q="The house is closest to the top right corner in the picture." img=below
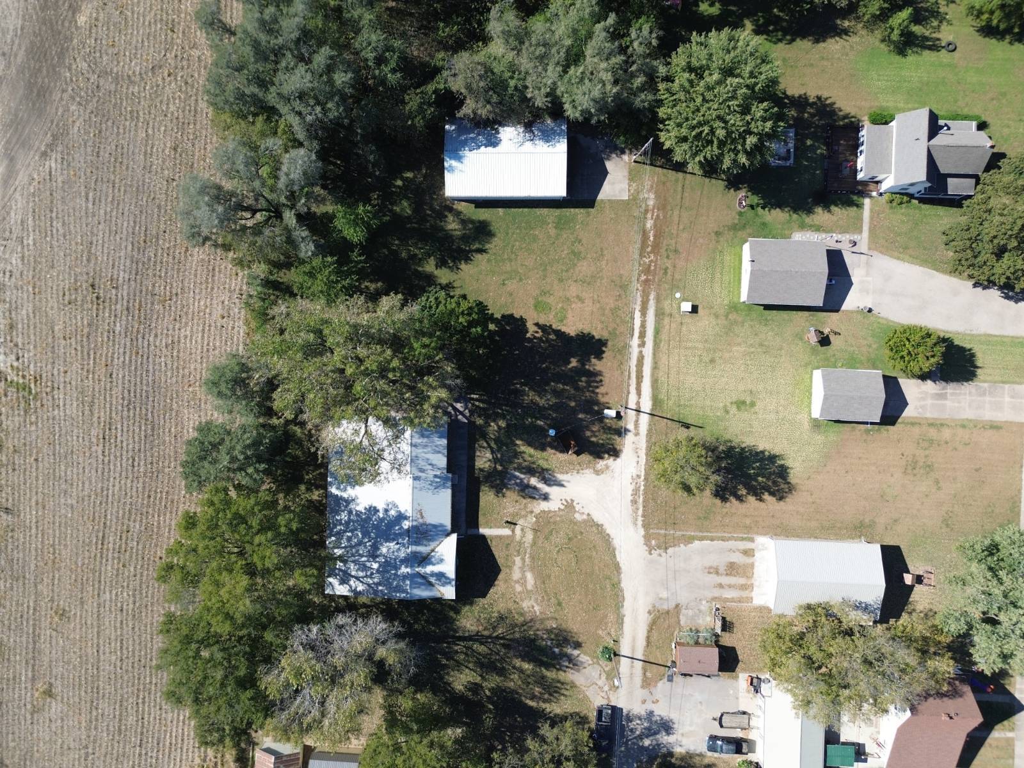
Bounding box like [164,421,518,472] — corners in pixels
[857,108,994,198]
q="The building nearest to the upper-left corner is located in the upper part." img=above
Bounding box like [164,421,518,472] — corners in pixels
[443,118,568,201]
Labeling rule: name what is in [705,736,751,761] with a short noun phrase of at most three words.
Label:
truck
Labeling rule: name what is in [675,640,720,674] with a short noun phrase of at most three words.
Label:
shed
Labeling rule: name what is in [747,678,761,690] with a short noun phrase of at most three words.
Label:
vehicle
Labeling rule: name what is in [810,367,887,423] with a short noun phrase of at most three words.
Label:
building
